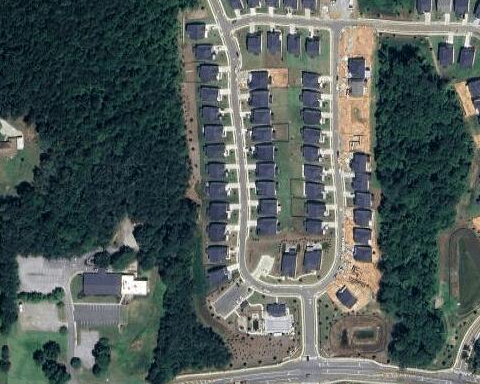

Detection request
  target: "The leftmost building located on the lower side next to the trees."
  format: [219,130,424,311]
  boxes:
[82,269,123,296]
